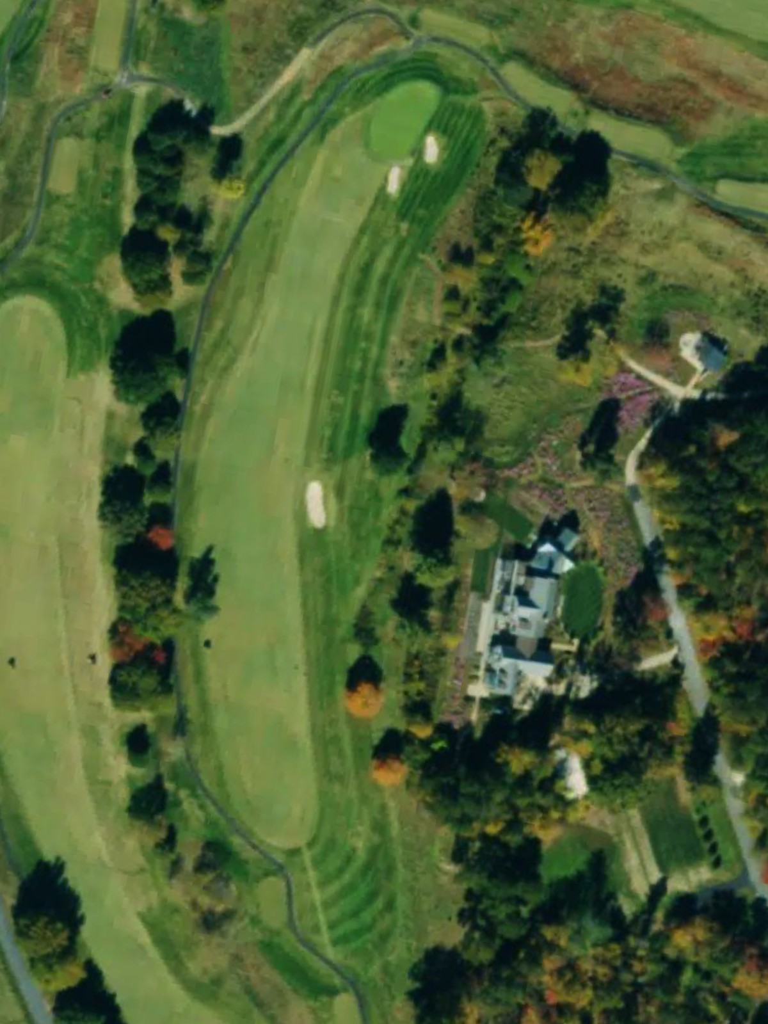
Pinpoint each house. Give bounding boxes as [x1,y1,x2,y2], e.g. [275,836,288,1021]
[484,542,572,697]
[698,332,728,376]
